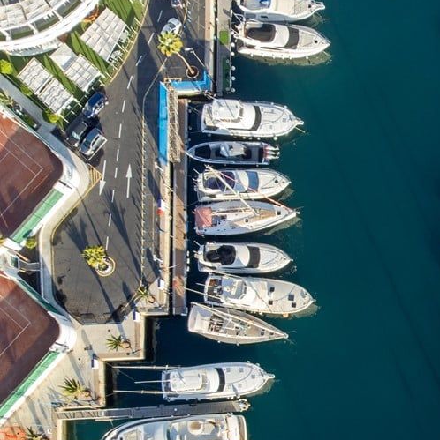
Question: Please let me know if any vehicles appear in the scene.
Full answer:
Yes, looking at the shot, I can spot a vehicle.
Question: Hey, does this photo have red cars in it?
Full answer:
No, no red car is visible in the scene.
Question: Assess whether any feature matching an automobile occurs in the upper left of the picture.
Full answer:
Yes, the scene does show an automobile in the upper left of the picture.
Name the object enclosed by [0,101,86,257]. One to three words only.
sports court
